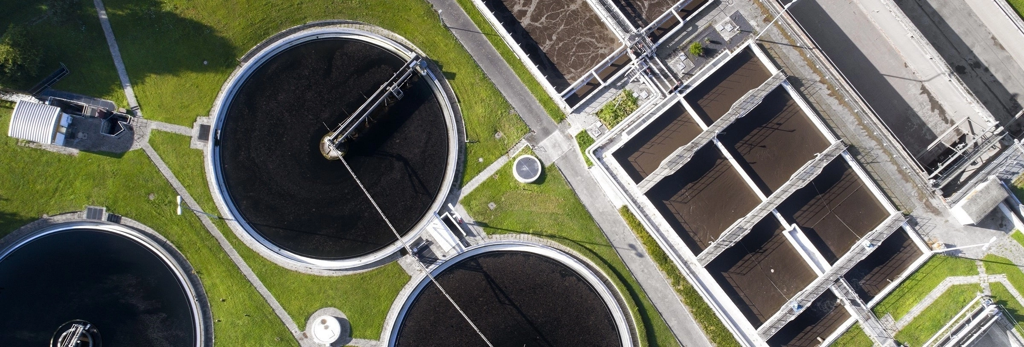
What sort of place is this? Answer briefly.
industrial area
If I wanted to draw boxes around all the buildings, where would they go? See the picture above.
[953,175,1009,226]
[7,100,82,149]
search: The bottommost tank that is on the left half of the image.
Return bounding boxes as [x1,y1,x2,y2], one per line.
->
[311,315,342,347]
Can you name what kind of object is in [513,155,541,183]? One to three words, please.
storage tank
